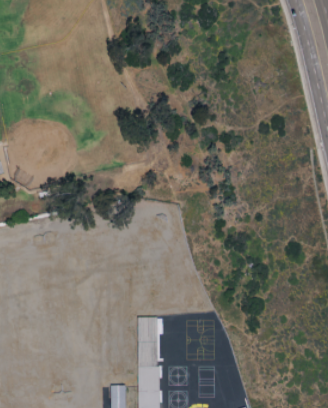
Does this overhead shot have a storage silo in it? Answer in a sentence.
No, no storage silo can be seen from above.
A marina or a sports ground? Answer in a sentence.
The picture captures a sports ground.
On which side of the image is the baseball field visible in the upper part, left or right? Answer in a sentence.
The baseball field visible in the upper part appears in the left half of the scene.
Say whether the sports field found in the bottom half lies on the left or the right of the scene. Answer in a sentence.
The sports field found in the bottom half is on the left side of the image.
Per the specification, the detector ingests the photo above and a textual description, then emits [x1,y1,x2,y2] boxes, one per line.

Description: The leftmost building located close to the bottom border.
[111,386,126,408]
